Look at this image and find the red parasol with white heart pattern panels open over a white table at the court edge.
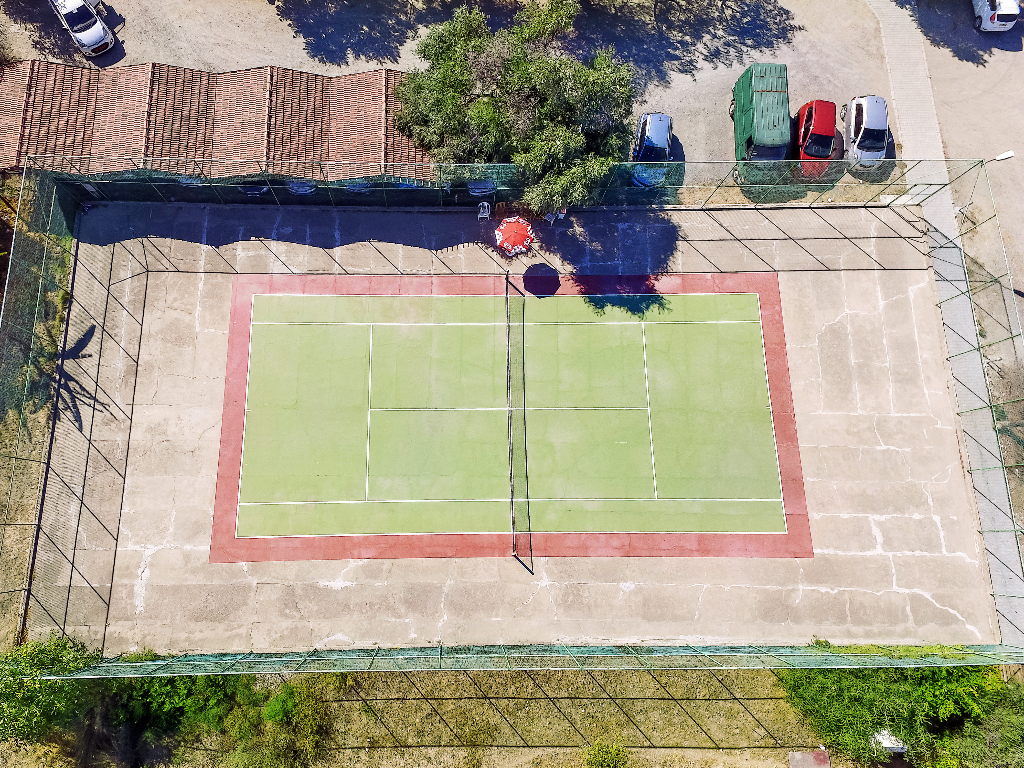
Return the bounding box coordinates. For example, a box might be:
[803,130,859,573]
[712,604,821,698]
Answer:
[495,217,535,255]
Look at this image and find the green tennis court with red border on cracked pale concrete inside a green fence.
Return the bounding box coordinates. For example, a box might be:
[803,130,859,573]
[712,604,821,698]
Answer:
[16,200,1004,657]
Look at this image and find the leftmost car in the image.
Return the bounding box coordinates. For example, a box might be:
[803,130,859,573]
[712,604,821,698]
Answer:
[50,0,120,56]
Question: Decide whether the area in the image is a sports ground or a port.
sports ground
